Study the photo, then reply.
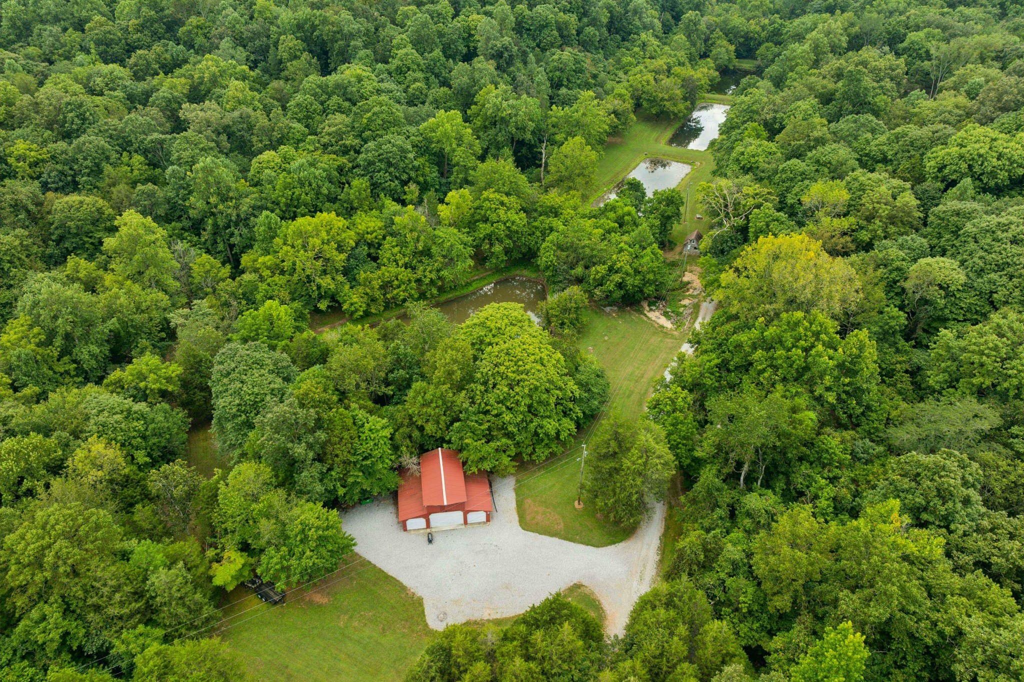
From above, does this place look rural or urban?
rural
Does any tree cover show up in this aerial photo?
Yes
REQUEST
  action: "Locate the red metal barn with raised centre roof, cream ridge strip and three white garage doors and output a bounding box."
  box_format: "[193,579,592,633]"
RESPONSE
[397,441,493,535]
